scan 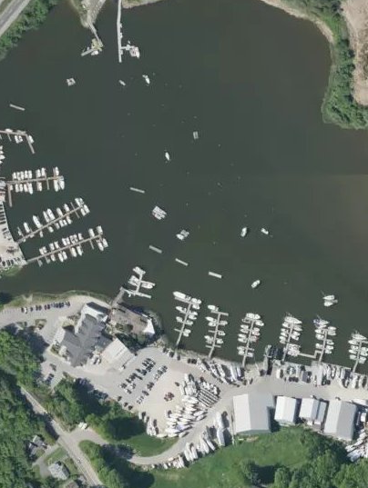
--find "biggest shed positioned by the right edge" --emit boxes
[323,402,356,441]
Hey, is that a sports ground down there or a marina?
marina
